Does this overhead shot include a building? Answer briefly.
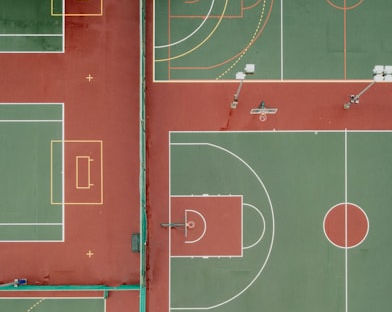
No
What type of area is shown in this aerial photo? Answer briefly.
sports ground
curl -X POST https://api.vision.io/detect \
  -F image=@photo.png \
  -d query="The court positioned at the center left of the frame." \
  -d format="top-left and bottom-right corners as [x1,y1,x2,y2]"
[0,103,102,242]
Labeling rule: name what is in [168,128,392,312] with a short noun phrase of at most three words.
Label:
basketball court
